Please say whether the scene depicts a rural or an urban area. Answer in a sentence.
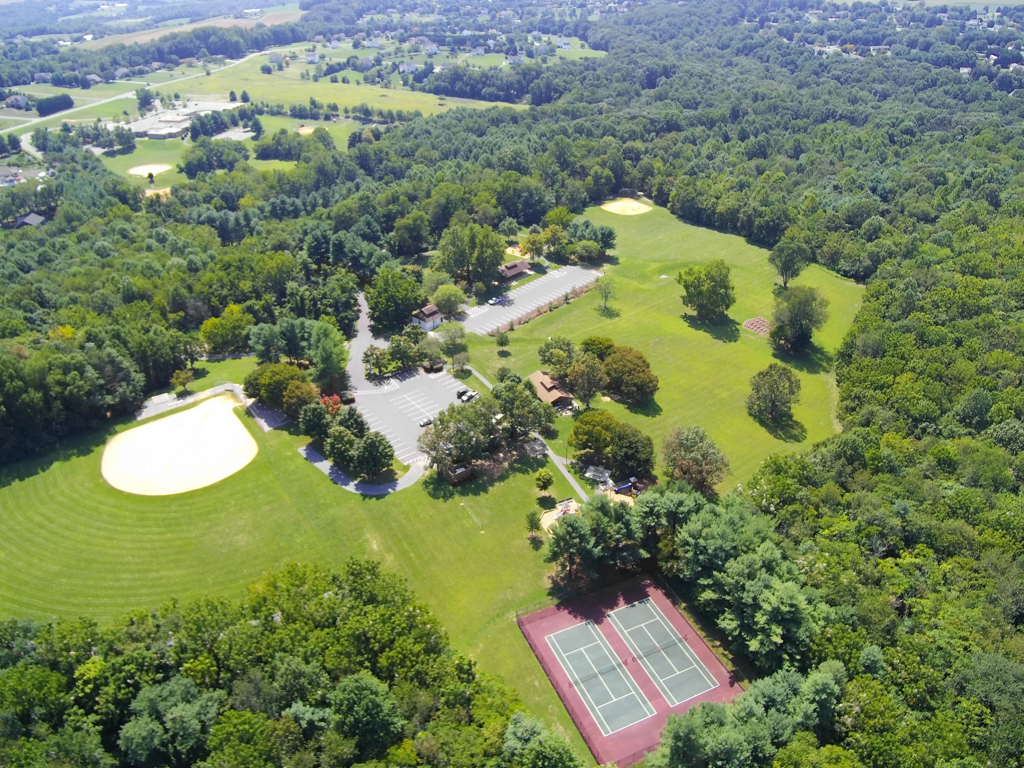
The area shown here is rural.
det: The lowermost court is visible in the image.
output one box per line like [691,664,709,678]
[519,573,759,768]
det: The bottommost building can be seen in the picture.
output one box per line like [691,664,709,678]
[528,368,573,409]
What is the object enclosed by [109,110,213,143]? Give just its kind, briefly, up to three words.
building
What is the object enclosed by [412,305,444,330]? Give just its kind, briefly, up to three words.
shed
